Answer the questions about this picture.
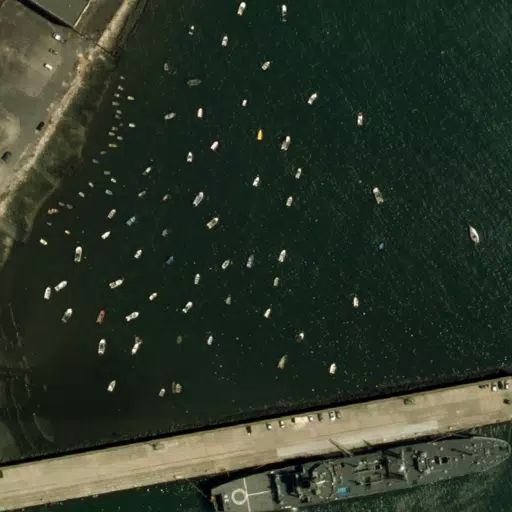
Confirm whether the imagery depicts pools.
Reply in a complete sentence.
No, I can see no pool in this picture.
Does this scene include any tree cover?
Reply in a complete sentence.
No, the scene doesn't show any tree cover.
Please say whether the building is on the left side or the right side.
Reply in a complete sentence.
The building is on the left side of the image.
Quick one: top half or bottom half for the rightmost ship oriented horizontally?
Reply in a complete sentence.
The rightmost ship oriented horizontally is in the bottom half of the image.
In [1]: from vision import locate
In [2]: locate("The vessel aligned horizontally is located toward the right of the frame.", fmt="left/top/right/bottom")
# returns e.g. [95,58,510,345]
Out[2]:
[209,438,510,512]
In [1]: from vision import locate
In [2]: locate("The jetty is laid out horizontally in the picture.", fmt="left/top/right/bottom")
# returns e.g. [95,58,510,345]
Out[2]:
[0,376,512,510]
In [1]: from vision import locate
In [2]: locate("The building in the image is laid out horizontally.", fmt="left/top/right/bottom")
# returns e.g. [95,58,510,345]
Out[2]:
[31,0,94,28]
